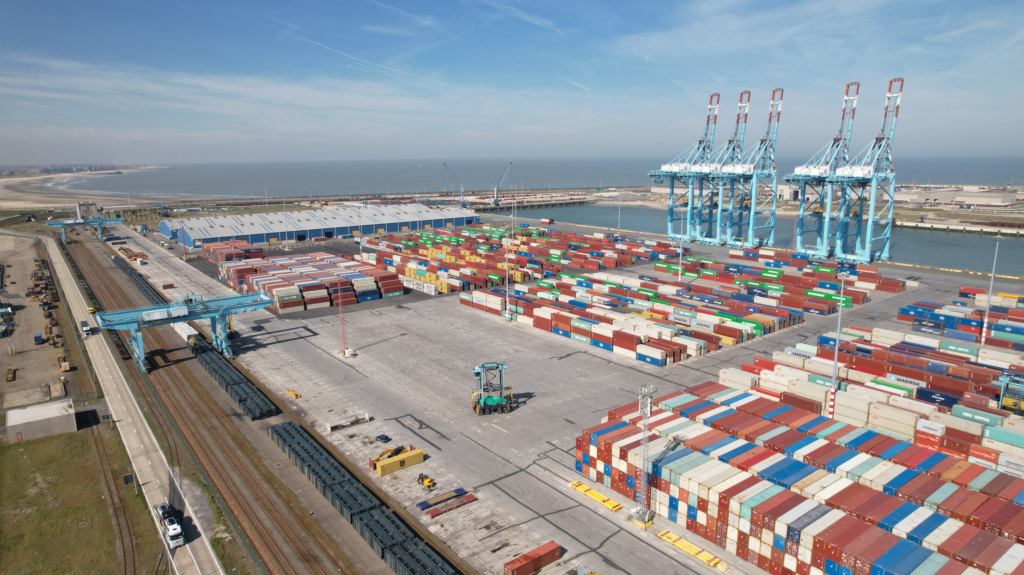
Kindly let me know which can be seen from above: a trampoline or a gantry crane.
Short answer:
gantry crane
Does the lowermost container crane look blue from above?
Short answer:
Yes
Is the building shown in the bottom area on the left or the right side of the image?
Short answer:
left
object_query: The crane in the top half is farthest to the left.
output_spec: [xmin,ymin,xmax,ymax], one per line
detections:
[46,214,122,243]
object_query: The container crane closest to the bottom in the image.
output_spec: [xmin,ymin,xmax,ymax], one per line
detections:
[95,286,277,373]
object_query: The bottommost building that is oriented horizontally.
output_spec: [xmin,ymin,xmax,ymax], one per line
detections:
[6,399,77,444]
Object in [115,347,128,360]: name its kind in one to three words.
rail car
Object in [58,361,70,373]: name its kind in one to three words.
vehicle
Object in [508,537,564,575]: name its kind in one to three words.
shipping container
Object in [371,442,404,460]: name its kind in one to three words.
work vehicle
